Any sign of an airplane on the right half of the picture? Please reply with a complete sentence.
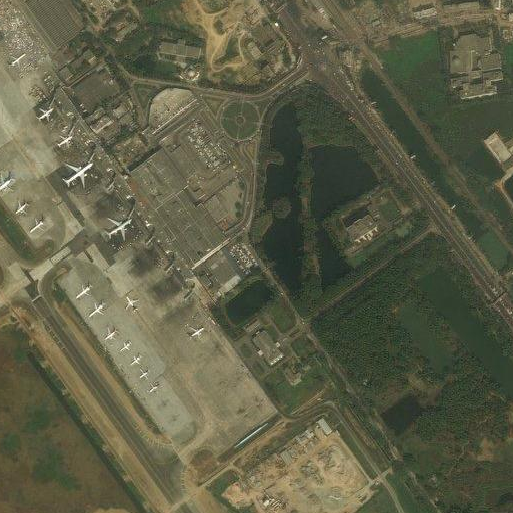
No, there's no airplane to be seen on the right half of the picture.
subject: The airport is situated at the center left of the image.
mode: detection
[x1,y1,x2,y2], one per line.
[0,0,276,513]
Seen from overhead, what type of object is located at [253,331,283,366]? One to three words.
building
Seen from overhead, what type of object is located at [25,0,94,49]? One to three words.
hangar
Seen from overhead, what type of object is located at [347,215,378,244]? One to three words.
house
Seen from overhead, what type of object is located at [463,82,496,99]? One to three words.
building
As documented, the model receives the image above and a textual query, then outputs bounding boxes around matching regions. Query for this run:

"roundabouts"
[221,101,260,139]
